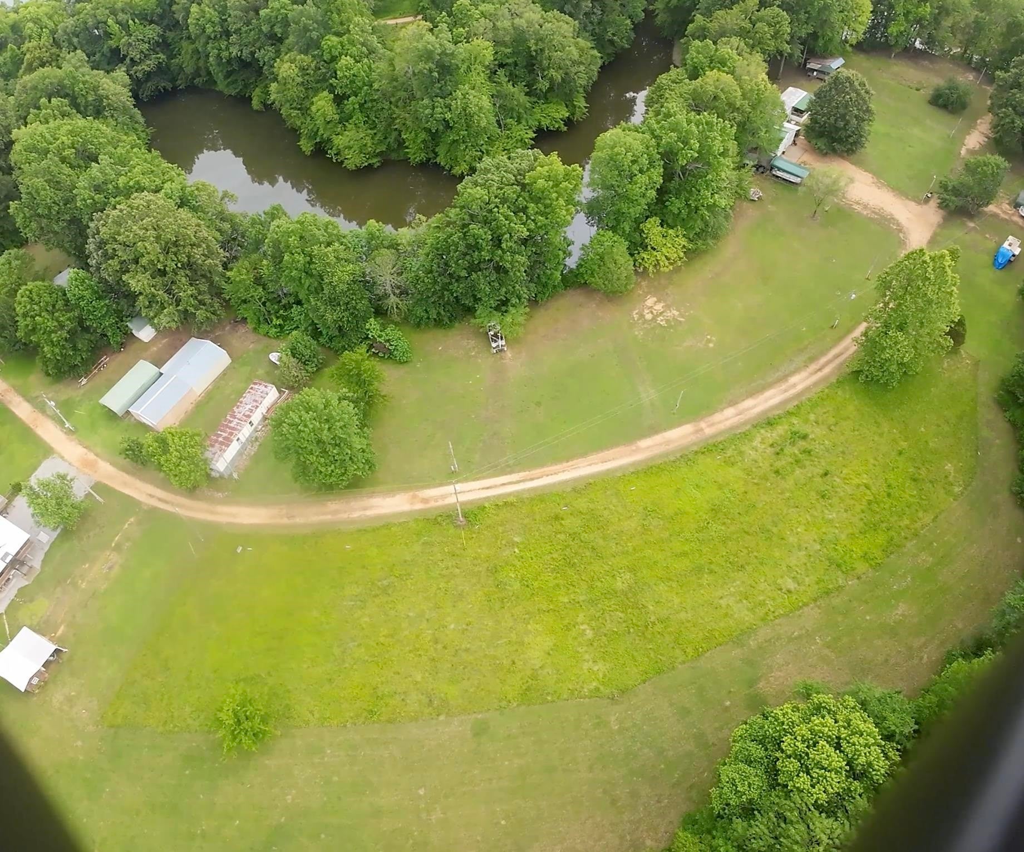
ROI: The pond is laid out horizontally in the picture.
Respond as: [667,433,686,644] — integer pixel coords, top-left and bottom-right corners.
[133,0,677,278]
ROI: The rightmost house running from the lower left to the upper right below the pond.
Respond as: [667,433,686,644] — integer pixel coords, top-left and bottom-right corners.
[199,379,278,475]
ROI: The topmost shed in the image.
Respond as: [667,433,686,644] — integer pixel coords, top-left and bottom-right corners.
[802,51,847,84]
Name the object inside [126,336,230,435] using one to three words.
building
